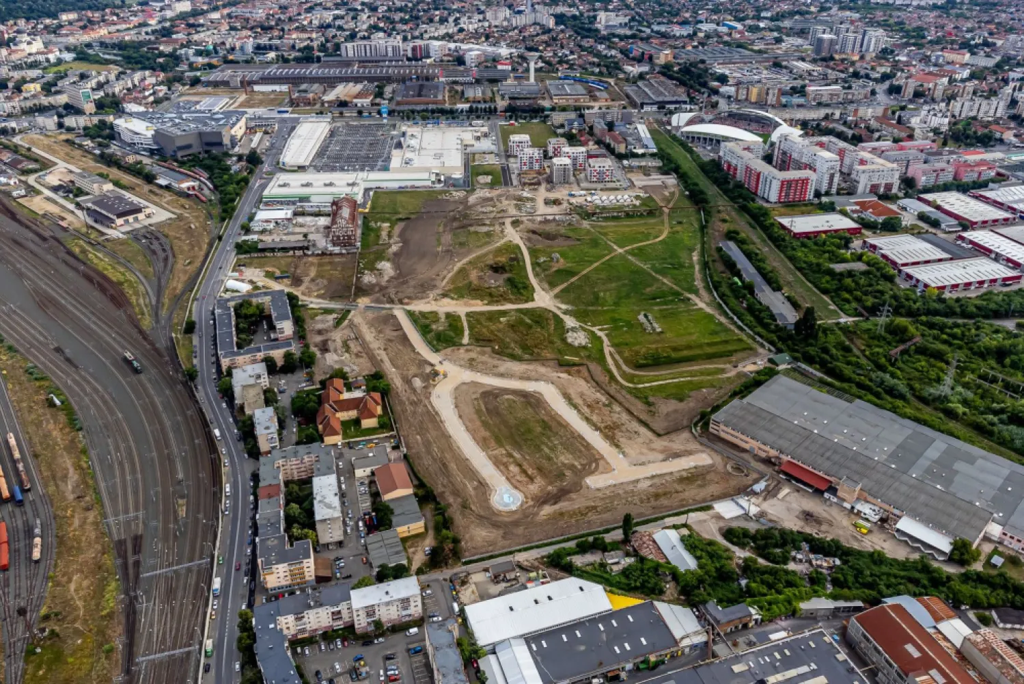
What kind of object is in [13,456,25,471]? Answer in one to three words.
rail car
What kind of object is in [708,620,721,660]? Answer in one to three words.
chimney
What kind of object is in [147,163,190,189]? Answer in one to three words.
shed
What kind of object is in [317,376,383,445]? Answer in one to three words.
house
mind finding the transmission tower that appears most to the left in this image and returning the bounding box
[874,301,894,335]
